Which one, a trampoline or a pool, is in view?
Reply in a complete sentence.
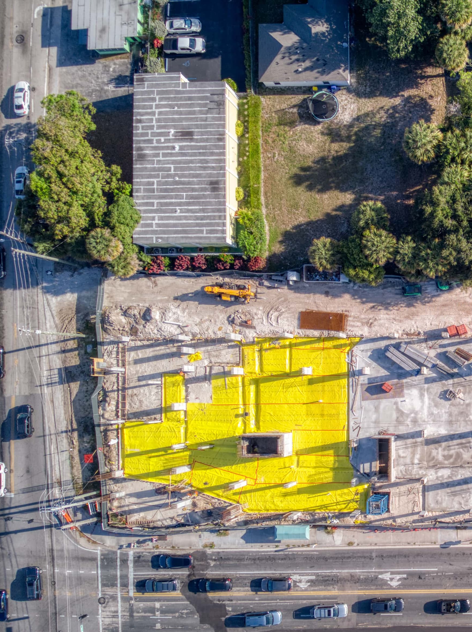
Looking from above, you can make out a trampoline.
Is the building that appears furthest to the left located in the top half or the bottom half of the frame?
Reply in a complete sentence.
The top half of the photo is where the building that appears furthest to the left is.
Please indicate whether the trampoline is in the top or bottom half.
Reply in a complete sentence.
It is in the top half that the trampoline appears.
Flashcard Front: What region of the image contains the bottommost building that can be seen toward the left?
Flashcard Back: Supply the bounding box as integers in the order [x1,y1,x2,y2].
[132,72,240,251]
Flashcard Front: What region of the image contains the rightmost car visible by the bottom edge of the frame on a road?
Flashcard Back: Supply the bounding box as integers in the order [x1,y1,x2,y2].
[438,598,470,614]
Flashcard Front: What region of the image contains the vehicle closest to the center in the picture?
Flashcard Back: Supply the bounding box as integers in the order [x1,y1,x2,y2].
[206,281,260,304]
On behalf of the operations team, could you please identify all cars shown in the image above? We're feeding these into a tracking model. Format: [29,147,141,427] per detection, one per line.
[152,554,193,570]
[12,82,31,116]
[14,405,35,439]
[0,462,8,496]
[314,603,349,620]
[438,598,470,614]
[10,166,28,199]
[23,566,44,601]
[0,345,8,378]
[245,611,283,628]
[371,597,404,615]
[166,17,202,34]
[261,576,293,593]
[197,576,235,594]
[145,576,180,595]
[0,590,10,621]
